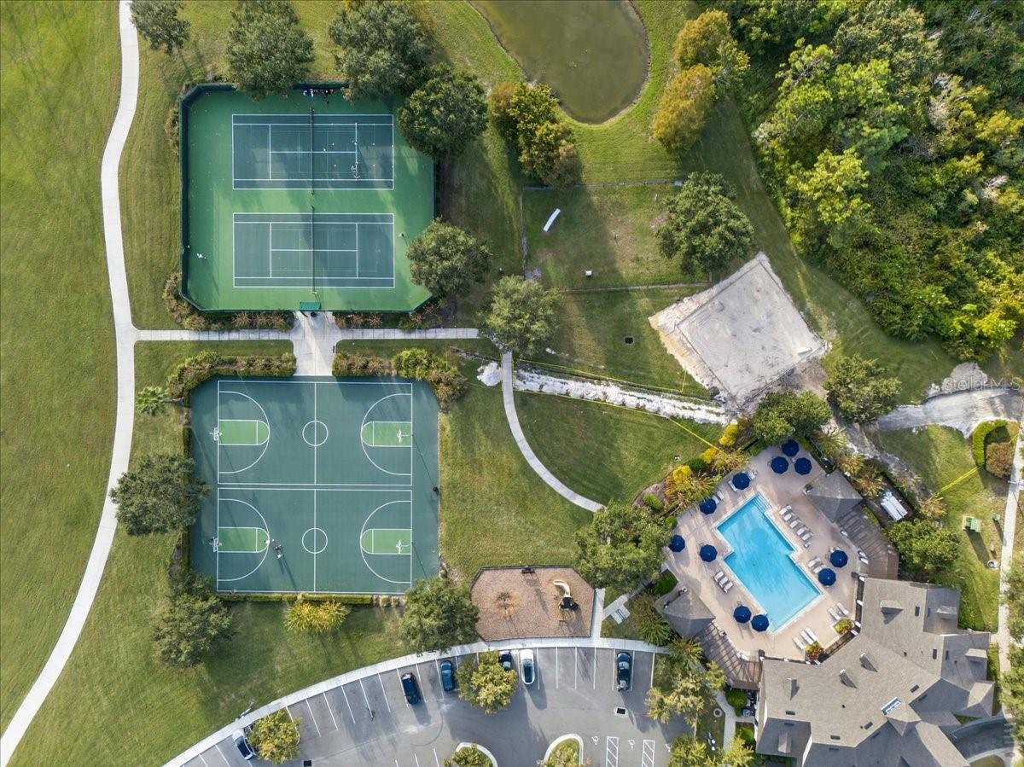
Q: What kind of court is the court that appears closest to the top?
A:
tennis court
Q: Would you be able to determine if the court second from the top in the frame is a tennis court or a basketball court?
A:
tennis court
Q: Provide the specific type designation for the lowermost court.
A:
basketball court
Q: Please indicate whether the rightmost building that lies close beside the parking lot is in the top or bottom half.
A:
bottom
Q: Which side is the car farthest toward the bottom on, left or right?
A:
left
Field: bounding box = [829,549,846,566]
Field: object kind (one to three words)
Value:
umbrella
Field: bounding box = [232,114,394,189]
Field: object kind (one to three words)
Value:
tennis court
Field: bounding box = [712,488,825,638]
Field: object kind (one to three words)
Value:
swimming pool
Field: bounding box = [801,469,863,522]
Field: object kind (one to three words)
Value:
building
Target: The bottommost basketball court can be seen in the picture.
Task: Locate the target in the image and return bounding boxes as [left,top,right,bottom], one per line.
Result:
[217,488,412,593]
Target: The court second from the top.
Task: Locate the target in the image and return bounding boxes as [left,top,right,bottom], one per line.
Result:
[233,213,395,288]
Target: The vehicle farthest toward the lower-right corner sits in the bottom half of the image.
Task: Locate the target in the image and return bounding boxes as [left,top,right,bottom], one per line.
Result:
[617,652,633,690]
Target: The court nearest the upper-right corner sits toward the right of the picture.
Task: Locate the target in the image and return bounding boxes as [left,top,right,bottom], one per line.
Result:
[650,251,828,408]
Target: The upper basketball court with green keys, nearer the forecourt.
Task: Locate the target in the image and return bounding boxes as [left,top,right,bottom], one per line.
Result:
[217,380,413,486]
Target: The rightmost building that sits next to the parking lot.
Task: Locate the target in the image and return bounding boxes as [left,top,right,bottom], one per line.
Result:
[753,570,994,767]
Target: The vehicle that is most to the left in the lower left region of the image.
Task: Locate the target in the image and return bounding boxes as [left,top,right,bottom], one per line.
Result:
[232,727,253,761]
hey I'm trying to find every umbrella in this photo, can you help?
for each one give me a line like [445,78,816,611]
[816,567,834,585]
[699,543,717,561]
[829,549,846,566]
[732,603,750,621]
[770,456,788,474]
[697,496,715,514]
[668,535,685,552]
[748,612,767,630]
[731,471,749,489]
[793,457,811,475]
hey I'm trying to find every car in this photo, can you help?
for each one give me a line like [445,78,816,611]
[520,649,536,684]
[439,659,455,692]
[617,652,633,690]
[499,648,514,680]
[232,727,253,761]
[401,672,420,705]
